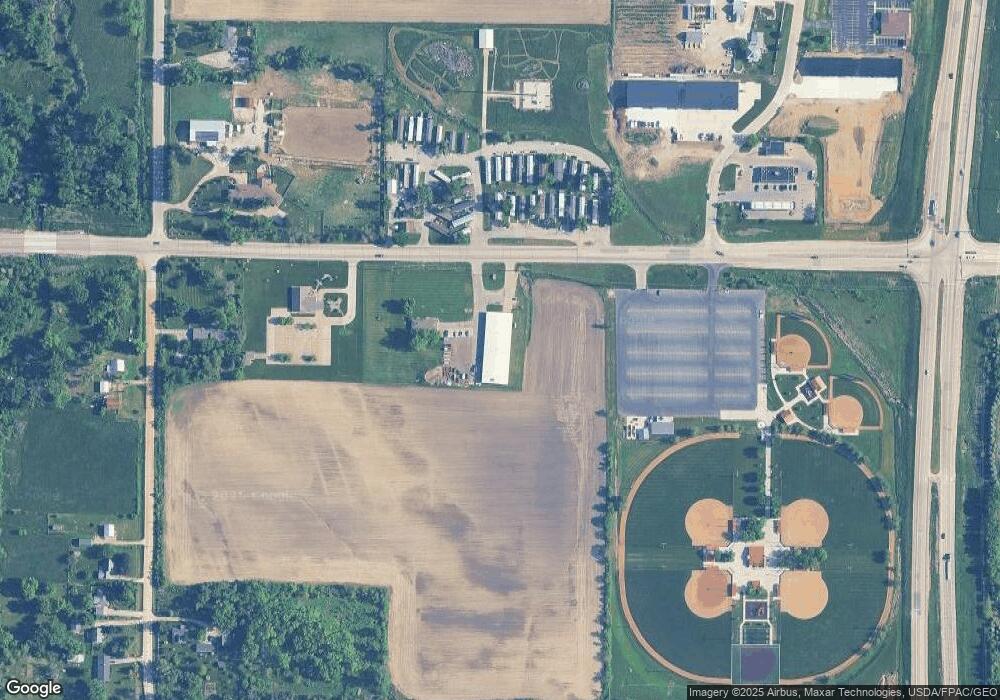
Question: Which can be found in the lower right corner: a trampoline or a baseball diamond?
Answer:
baseball diamond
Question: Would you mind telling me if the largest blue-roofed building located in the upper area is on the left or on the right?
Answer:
right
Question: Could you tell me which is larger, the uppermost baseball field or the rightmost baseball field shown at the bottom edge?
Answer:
the rightmost baseball field shown at the bottom edge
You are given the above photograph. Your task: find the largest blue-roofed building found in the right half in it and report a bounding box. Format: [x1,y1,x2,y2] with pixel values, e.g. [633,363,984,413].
[627,80,739,109]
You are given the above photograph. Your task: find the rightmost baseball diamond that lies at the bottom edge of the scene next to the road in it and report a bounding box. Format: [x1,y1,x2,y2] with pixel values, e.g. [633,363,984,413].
[781,557,895,683]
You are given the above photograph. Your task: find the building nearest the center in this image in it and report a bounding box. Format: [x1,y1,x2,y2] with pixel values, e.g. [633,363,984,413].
[480,311,513,385]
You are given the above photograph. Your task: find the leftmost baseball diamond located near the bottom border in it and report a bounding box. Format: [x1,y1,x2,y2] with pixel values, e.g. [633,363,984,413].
[618,557,733,683]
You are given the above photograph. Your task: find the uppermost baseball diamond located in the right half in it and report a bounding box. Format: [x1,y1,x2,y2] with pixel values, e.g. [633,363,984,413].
[774,314,831,370]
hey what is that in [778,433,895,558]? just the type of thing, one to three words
baseball field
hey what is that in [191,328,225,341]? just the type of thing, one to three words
house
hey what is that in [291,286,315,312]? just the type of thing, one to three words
building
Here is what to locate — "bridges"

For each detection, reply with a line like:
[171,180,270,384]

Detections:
[22,230,58,255]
